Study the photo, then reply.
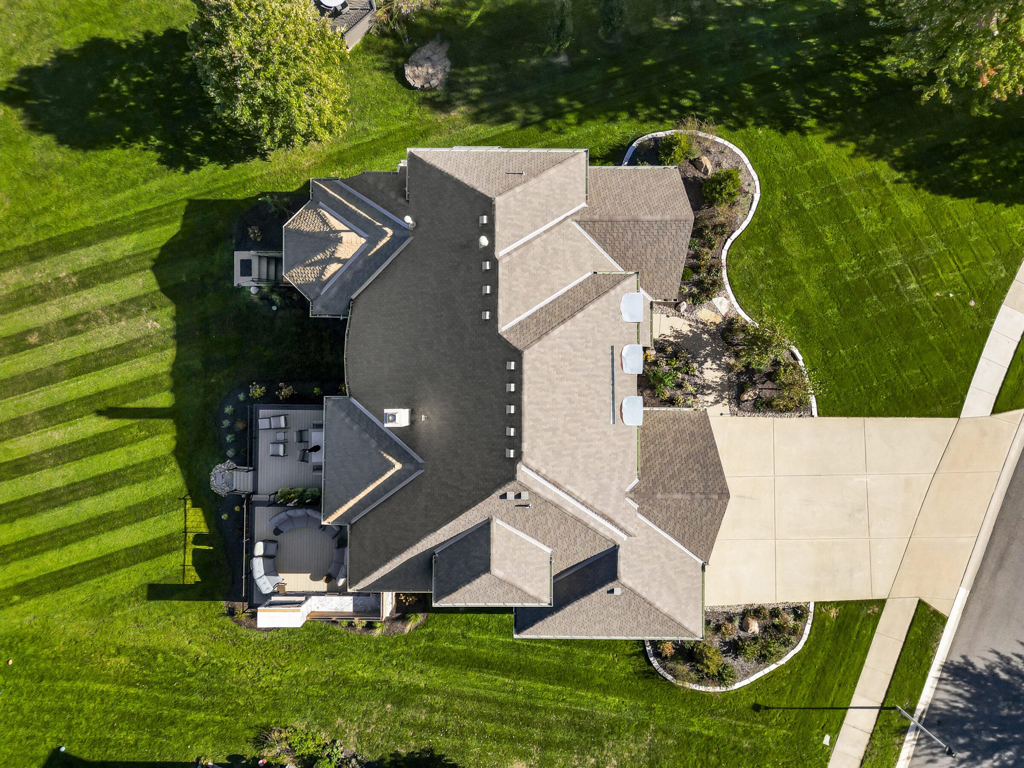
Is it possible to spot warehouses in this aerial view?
No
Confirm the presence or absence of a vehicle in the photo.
No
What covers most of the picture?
grass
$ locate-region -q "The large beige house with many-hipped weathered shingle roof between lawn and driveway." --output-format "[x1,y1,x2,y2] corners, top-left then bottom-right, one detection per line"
[281,145,730,642]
